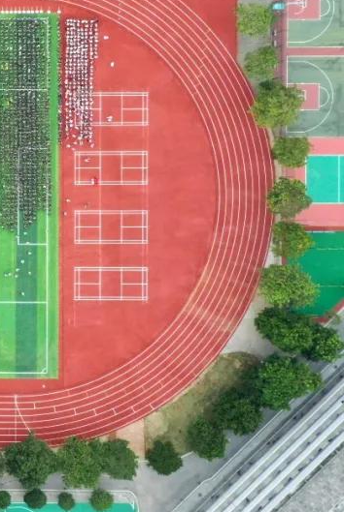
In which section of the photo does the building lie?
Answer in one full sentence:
You can find the building in the bottom right area of the picture.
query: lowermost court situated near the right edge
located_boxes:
[276,226,344,323]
